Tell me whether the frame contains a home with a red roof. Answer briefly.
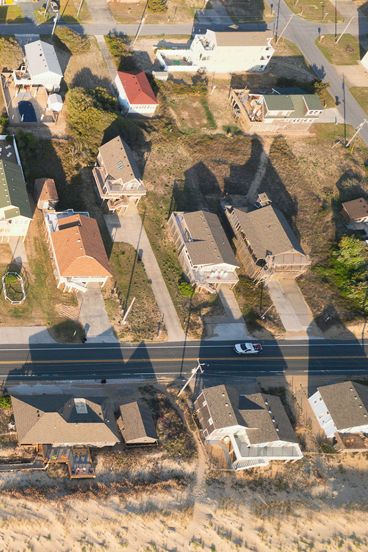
Yes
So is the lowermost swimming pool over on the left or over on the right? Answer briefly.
left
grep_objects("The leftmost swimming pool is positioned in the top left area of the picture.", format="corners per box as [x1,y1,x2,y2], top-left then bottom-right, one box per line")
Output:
[17,100,38,123]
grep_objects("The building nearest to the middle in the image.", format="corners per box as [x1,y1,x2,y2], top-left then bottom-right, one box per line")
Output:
[153,211,246,303]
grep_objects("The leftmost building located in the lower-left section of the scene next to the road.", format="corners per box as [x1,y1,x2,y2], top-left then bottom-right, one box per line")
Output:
[0,382,117,480]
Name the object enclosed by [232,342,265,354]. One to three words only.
vehicle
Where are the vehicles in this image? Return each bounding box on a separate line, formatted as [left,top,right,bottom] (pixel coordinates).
[50,2,60,12]
[232,342,265,354]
